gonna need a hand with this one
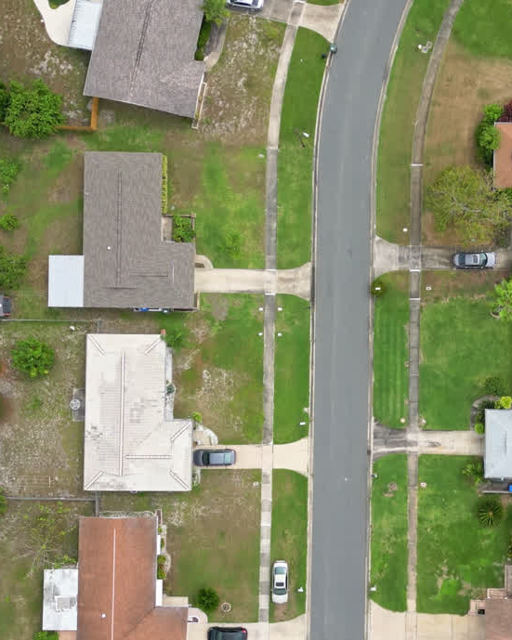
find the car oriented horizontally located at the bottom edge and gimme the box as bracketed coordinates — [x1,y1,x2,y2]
[207,623,250,640]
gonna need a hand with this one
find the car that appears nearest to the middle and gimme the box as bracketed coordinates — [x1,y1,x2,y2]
[194,447,237,467]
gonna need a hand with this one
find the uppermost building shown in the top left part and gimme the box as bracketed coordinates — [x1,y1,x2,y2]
[68,0,208,118]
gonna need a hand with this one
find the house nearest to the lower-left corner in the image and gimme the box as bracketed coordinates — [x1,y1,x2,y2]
[43,515,190,640]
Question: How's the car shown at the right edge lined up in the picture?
from side to side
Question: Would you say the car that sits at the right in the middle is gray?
Yes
